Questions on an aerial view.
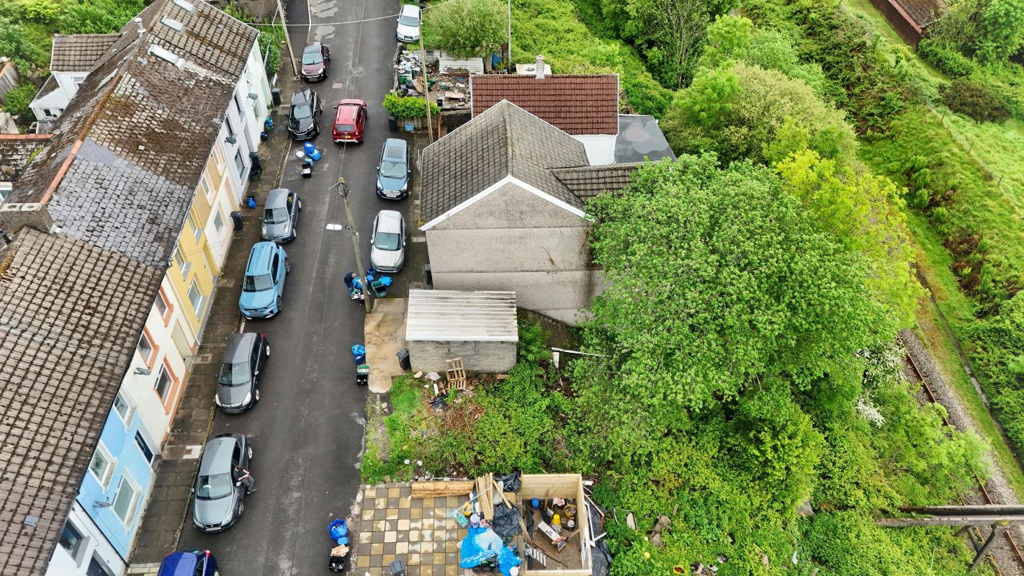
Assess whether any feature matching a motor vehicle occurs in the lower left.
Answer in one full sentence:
Yes, a motor vehicle is visible in the lower left.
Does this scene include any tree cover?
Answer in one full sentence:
Yes, there is tree cover in the image.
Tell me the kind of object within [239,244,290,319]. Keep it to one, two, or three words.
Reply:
car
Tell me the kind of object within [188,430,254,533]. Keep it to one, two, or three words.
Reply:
car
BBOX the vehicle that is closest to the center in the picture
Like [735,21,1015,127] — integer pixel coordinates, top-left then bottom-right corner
[367,212,407,272]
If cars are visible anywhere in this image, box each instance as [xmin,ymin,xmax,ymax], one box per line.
[373,136,411,198]
[259,187,301,242]
[214,334,270,414]
[367,212,407,272]
[300,44,332,81]
[394,6,420,41]
[333,102,367,145]
[239,244,290,319]
[188,430,254,533]
[286,87,324,139]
